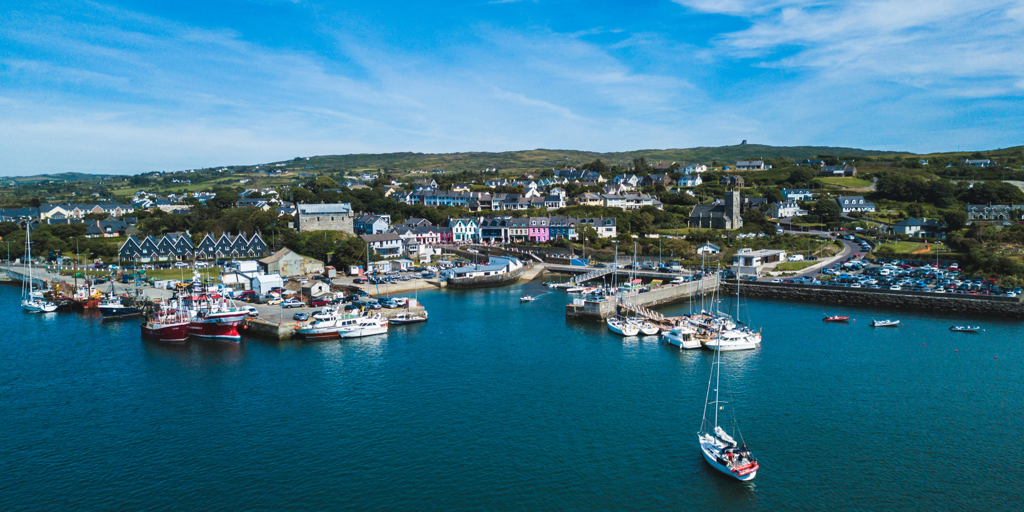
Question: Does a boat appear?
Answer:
Yes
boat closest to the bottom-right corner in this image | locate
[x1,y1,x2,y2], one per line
[947,319,980,331]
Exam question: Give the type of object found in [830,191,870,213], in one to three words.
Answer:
house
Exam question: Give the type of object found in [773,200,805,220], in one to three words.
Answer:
house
